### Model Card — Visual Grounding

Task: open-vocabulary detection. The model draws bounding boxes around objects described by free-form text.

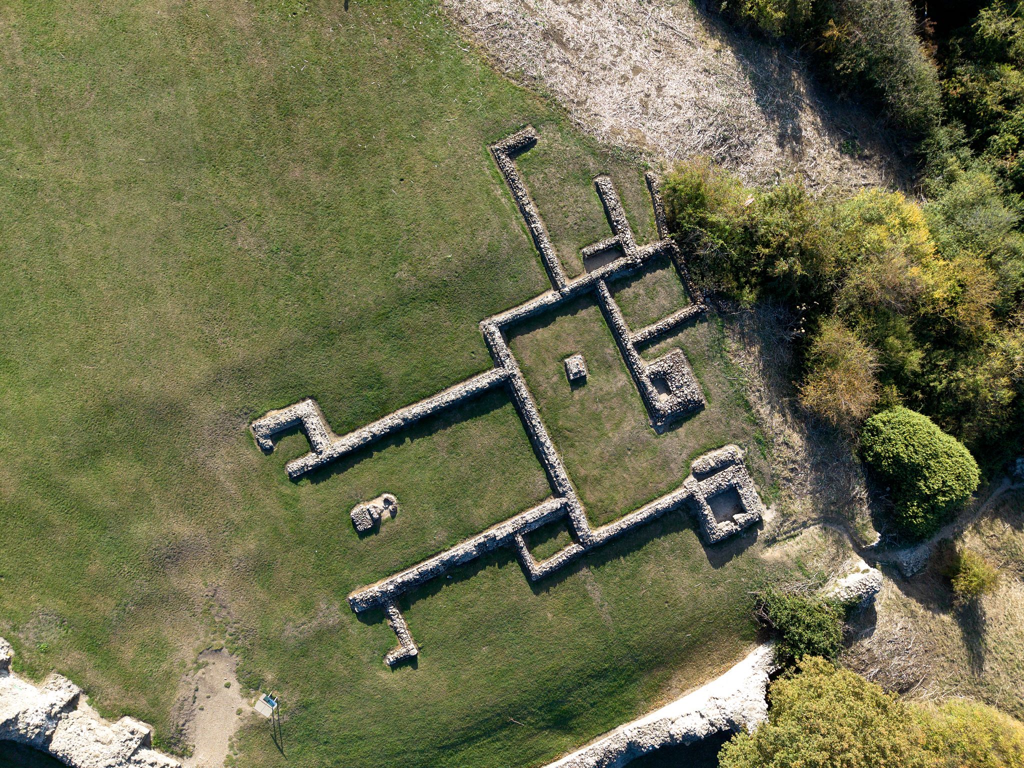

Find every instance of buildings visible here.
[252,127,763,665]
